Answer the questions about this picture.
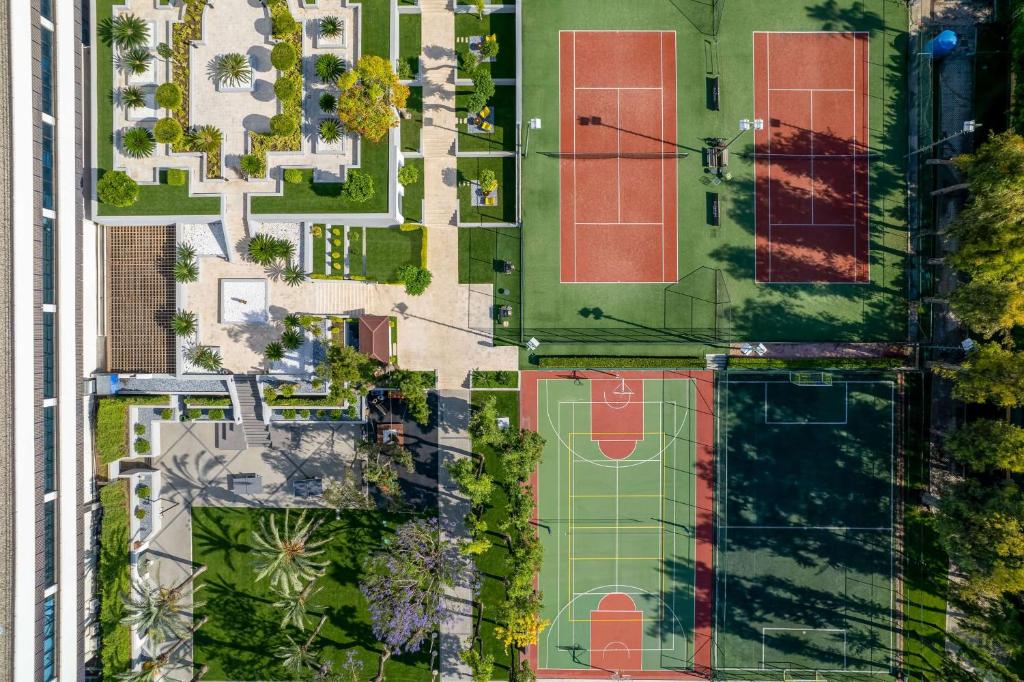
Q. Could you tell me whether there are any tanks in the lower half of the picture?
No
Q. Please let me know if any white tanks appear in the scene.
No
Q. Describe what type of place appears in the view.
sports ground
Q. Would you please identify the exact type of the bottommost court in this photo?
basketball court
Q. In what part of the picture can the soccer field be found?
bottom right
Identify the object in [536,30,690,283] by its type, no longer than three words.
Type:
tennis court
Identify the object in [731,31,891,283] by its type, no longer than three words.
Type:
tennis court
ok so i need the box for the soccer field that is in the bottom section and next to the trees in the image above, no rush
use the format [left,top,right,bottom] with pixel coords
[717,381,893,671]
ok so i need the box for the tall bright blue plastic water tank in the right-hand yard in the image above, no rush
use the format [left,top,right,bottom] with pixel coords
[920,25,956,54]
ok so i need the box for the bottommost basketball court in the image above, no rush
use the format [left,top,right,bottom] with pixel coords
[537,379,696,670]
